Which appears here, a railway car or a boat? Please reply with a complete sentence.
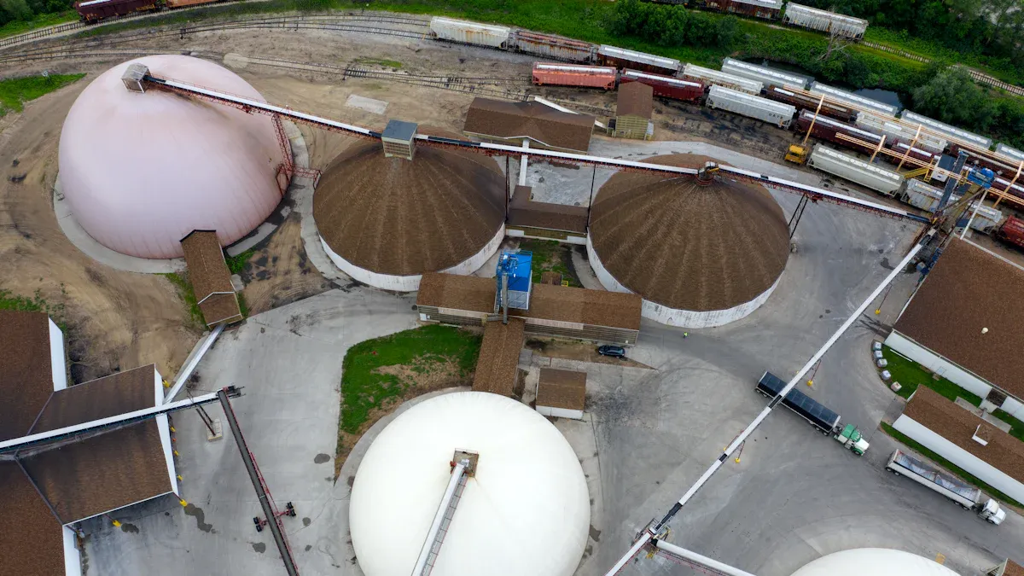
This aerial view contains a railway car.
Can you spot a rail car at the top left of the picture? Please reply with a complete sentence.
Yes, at the top left of the picture there is a rail car.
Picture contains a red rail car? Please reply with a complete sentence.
Yes, there is a red rail car in the image.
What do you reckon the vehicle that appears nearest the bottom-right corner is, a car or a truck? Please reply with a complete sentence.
The vehicle that appears nearest the bottom-right corner appears to be a truck.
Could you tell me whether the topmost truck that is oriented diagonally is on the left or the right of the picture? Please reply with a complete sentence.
It is on the right.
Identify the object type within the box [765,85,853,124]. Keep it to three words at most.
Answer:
rail car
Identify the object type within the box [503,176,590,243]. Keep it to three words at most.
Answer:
building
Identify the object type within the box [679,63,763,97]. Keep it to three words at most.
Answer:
rail car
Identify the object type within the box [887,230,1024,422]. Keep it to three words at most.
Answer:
warehouse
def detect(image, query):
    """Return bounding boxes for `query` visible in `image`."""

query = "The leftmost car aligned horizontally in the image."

[597,344,625,359]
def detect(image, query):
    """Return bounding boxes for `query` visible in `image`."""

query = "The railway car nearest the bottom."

[992,216,1024,249]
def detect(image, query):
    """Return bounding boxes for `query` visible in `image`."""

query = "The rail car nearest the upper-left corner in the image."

[76,0,167,23]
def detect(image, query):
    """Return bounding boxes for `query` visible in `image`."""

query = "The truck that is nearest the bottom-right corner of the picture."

[886,447,1004,526]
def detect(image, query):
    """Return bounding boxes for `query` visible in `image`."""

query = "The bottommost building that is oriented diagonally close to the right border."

[894,383,1024,501]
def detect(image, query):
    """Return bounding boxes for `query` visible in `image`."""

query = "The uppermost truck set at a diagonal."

[755,373,868,457]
